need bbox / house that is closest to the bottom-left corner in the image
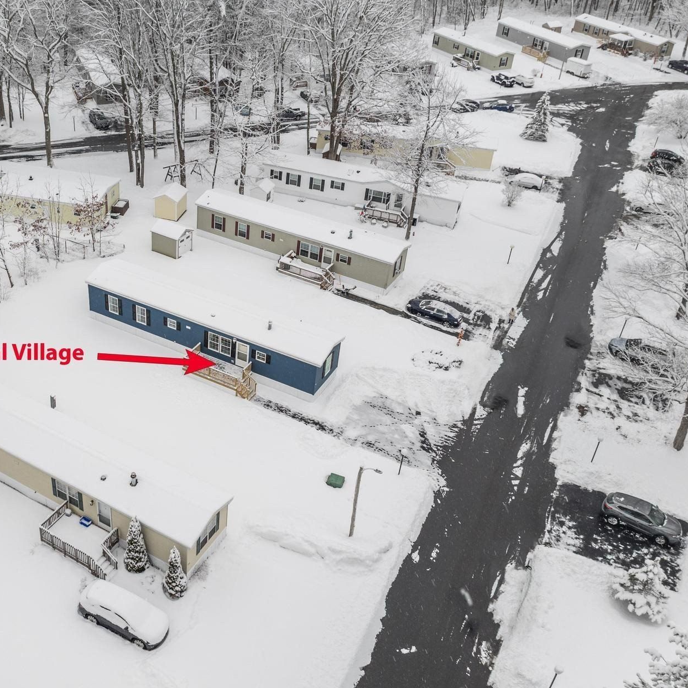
[0,388,233,576]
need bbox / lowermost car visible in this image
[76,580,168,654]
